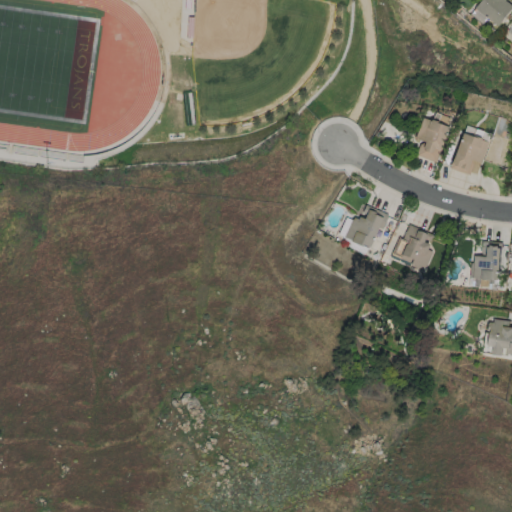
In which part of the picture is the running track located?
top left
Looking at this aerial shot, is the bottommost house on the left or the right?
right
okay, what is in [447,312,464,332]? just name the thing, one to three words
swimming pool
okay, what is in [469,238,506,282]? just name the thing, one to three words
house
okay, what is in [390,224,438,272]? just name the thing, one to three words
house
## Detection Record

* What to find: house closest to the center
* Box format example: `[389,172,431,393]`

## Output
[346,206,390,249]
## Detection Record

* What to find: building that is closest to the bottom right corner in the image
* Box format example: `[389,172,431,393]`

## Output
[484,316,512,356]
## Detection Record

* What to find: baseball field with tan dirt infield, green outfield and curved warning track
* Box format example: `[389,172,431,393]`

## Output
[194,0,336,124]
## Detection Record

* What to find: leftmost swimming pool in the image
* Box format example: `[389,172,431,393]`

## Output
[328,206,344,228]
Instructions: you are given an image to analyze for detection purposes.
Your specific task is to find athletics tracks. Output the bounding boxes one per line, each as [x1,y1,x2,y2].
[0,0,161,154]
